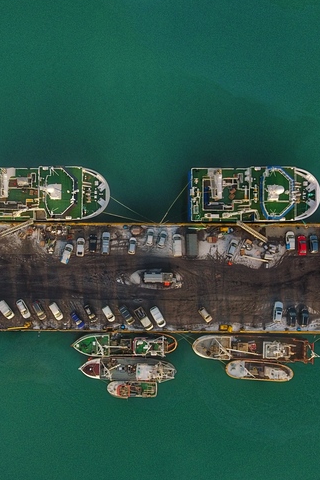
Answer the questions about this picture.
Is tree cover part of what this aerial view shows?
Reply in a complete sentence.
No, there is no tree cover in the image.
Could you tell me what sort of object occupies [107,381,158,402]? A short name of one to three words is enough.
boat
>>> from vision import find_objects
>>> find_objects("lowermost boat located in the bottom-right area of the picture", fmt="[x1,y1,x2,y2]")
[226,361,293,381]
